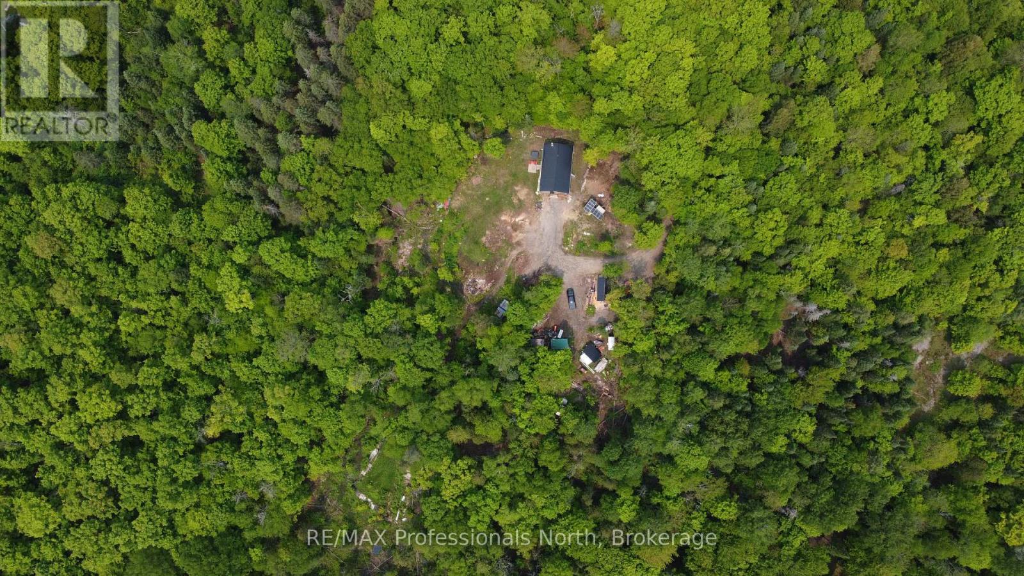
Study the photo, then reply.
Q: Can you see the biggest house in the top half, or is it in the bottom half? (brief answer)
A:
top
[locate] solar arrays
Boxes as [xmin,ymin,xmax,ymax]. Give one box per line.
[584,198,598,213]
[591,206,605,219]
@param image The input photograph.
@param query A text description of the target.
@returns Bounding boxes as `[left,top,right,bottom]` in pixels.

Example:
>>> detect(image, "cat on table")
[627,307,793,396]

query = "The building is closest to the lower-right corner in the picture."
[578,343,603,364]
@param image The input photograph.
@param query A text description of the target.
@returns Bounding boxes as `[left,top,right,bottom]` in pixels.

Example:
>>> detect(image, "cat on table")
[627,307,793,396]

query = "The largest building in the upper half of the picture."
[537,143,575,205]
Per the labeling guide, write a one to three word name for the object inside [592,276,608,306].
shed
